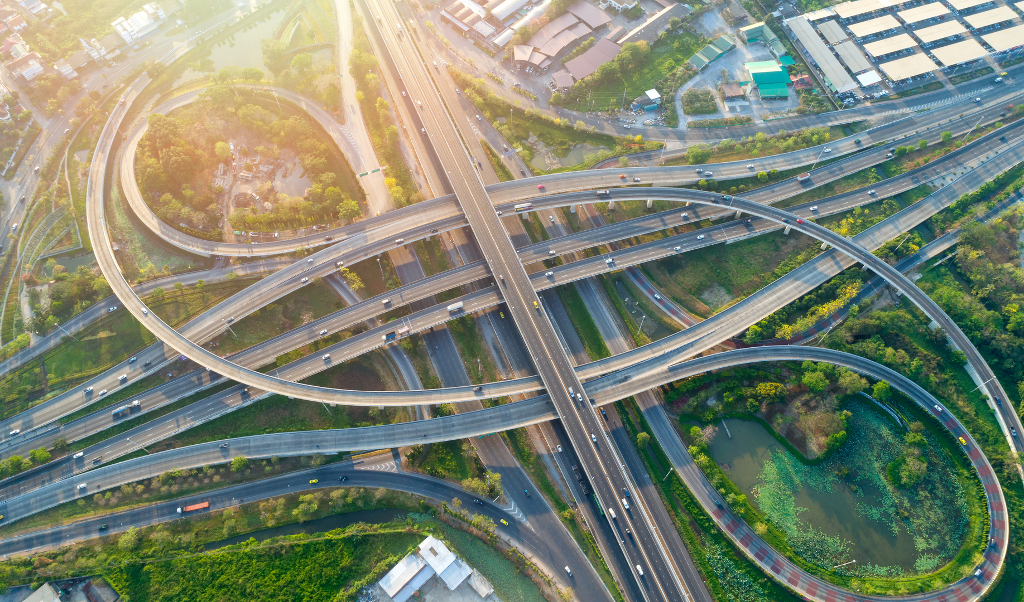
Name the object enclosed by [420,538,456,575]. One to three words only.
building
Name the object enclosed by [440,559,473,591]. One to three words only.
building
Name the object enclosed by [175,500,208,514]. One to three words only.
vehicle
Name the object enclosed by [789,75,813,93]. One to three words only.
house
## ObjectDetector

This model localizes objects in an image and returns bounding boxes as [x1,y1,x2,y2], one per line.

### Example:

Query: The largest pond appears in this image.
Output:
[711,393,970,577]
